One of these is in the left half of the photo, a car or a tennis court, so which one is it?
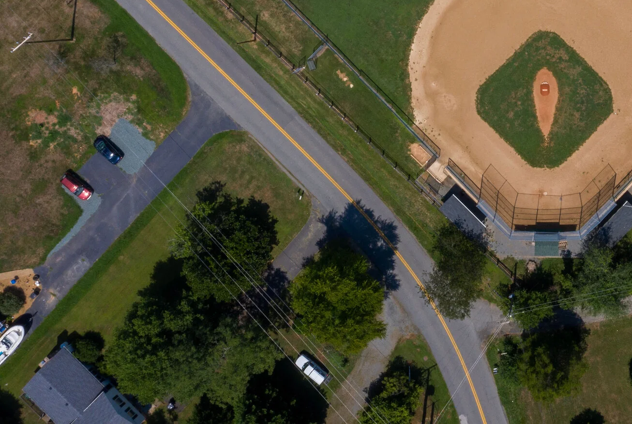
car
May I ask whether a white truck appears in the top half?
No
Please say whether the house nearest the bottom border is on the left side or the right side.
left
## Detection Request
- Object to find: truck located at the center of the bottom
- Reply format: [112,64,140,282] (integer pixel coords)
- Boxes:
[292,355,331,391]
